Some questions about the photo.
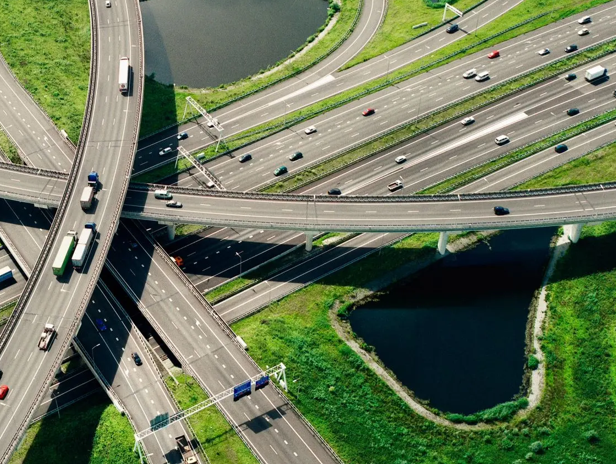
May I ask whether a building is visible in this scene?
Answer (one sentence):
No, there isn't any building down there.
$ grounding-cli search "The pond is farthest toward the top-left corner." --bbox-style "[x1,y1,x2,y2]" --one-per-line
[140,0,330,88]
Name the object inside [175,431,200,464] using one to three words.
truck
